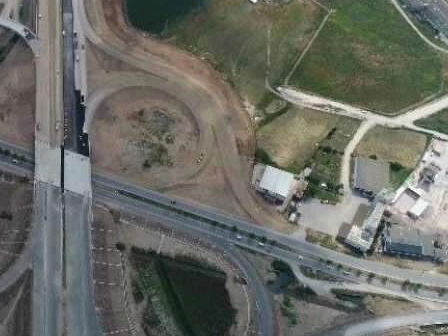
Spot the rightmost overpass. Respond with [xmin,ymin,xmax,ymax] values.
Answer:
[65,149,92,194]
